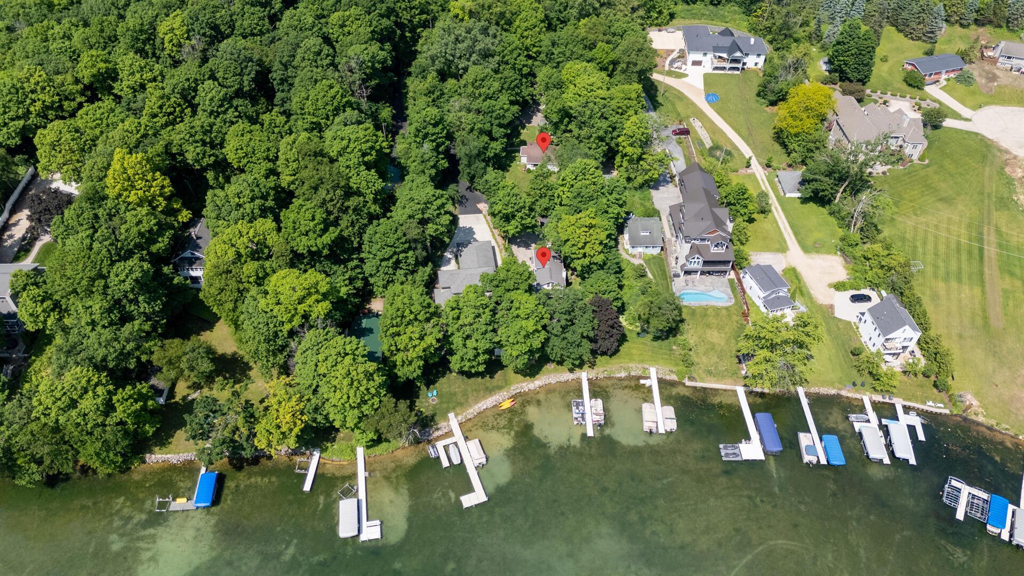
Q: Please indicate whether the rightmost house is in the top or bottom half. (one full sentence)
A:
It is in the top half that the rightmost house appears.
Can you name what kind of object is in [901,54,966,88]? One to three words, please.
house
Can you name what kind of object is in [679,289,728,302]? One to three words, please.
swimming pool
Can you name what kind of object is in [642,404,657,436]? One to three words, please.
boat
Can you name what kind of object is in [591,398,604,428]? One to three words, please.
boat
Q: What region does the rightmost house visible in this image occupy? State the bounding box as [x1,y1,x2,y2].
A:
[972,38,1024,77]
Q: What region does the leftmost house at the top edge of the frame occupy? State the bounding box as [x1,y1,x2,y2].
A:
[679,21,767,77]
